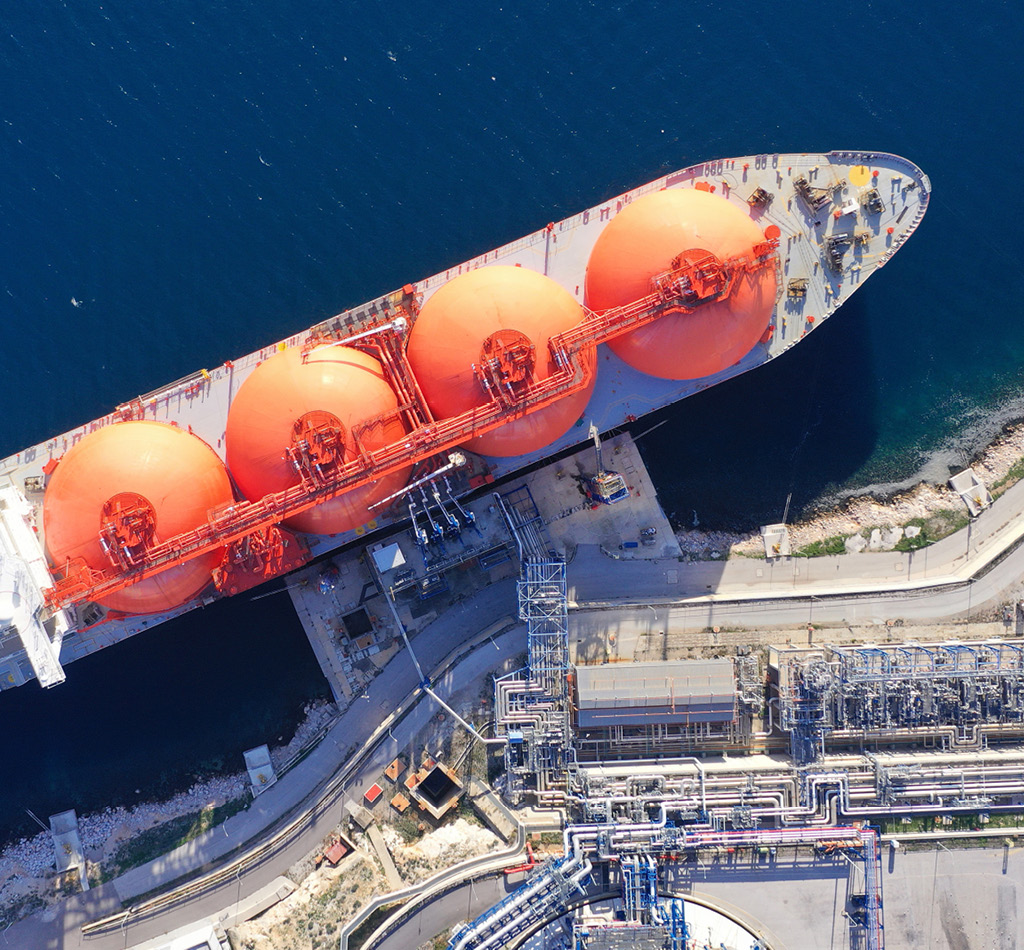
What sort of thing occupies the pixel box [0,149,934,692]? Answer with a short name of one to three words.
ship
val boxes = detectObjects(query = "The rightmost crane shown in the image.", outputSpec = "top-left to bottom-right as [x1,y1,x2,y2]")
[589,420,629,502]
